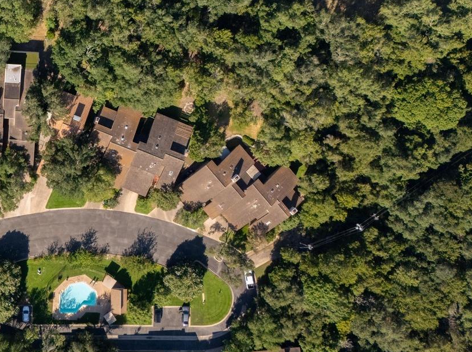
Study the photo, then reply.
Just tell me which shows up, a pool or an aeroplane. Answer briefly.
pool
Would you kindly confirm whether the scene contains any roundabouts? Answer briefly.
No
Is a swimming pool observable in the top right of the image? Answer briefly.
No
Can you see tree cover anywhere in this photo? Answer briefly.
Yes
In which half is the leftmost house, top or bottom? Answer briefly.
top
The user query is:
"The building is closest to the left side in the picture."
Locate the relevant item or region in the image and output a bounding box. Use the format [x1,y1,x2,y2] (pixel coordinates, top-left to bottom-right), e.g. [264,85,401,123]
[0,50,39,167]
